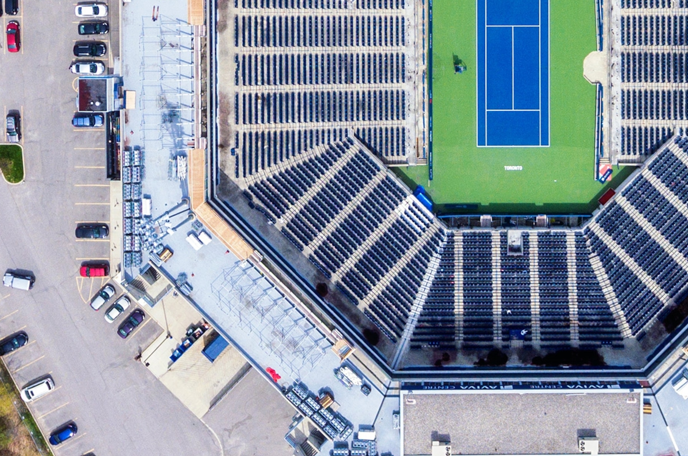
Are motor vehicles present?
Yes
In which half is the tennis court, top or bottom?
top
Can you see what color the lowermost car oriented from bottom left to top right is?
blue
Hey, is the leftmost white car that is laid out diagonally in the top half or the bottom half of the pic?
bottom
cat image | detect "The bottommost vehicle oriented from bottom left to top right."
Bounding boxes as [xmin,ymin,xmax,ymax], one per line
[48,420,80,447]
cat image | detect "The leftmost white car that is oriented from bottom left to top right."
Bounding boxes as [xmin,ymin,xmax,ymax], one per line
[21,375,57,403]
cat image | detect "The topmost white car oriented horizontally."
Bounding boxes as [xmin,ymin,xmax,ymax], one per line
[75,2,109,18]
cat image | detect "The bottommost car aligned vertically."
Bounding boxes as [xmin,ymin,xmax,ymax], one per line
[6,111,21,143]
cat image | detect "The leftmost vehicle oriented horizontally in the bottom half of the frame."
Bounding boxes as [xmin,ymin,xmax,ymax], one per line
[3,271,37,289]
